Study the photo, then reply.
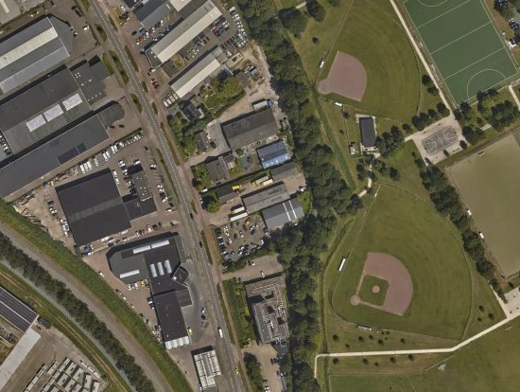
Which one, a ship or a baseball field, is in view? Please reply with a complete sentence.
Looking from above, you can make out a baseball field.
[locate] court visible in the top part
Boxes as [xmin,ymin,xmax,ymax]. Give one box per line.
[422,126,459,155]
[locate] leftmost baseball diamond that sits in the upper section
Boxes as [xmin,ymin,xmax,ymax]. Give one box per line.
[317,0,422,116]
